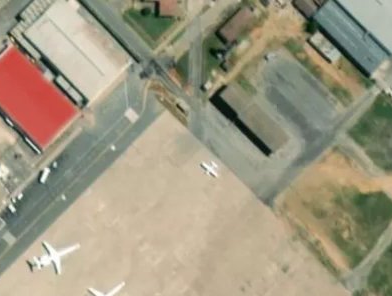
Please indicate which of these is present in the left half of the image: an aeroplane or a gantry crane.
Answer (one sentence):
There is an aeroplane in the left half of the image.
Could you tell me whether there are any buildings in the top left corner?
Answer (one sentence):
Yes, a building can be seen in the top left corner.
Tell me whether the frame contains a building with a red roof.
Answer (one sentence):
Yes, looking at the shot, I can spot a building with a red roof.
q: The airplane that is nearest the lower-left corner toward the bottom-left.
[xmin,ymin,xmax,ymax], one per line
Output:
[32,240,81,276]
